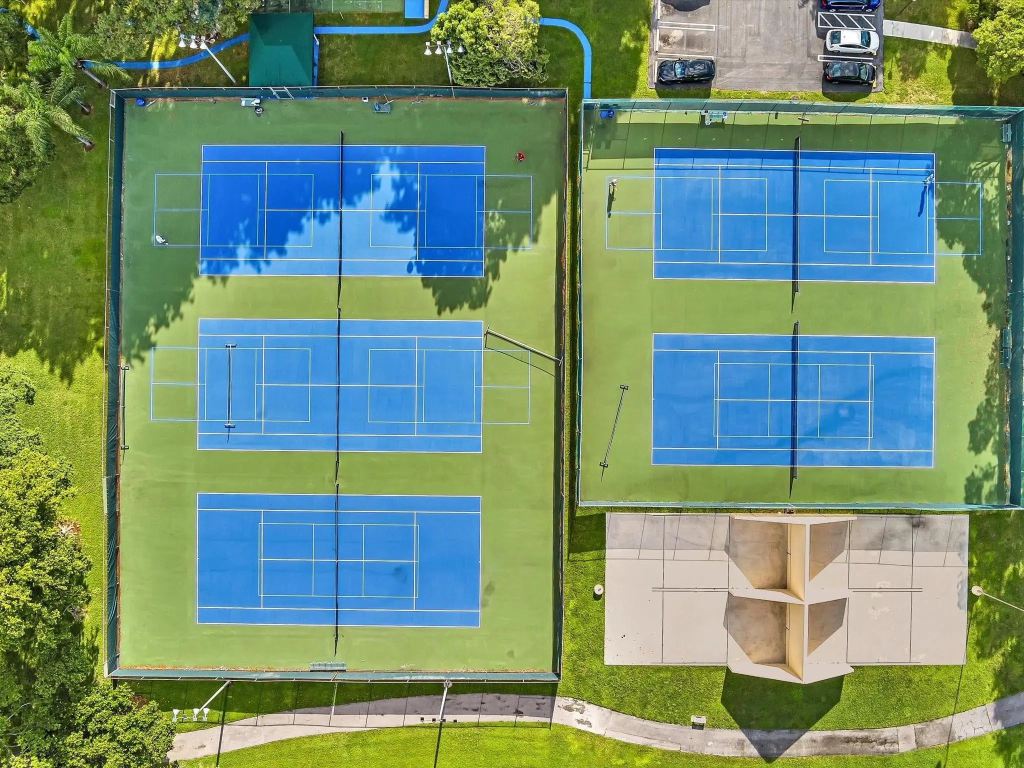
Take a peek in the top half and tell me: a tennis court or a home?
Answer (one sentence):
Looking in the top half, you will find a tennis court.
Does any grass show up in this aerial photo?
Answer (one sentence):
Yes, there is grass in the image.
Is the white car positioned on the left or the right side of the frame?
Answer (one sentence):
The white car appears in the right half of the scene.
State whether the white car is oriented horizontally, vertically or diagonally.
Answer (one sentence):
In this picture, the white car is oriented horizontally.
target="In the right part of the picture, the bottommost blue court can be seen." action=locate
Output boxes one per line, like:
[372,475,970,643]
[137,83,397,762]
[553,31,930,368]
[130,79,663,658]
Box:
[650,333,937,468]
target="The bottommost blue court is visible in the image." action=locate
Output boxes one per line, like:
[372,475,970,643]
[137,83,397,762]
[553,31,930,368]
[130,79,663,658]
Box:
[197,493,481,627]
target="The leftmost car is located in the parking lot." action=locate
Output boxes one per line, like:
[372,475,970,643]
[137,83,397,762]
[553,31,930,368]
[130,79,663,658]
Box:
[659,56,717,86]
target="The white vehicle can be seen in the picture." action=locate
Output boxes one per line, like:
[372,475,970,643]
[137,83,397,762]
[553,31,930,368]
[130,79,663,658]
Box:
[828,27,882,55]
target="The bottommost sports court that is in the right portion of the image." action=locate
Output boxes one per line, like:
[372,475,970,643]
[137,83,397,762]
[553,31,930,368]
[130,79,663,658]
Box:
[604,513,969,684]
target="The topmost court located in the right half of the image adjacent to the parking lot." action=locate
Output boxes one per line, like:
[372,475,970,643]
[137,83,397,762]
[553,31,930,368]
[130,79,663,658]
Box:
[604,147,985,284]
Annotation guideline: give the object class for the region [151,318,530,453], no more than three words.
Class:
tennis court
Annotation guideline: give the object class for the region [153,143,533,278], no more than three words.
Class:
tennis court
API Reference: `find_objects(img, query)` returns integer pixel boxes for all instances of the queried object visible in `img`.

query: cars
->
[659,56,717,86]
[823,0,881,13]
[828,27,882,55]
[828,59,878,86]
